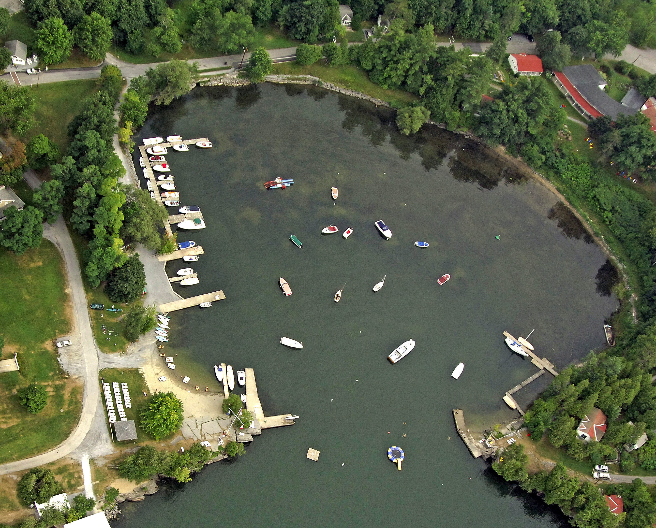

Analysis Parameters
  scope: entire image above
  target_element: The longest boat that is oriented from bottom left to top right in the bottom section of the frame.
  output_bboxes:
[387,341,414,363]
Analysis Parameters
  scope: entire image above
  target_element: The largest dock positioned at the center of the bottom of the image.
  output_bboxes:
[245,368,295,429]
